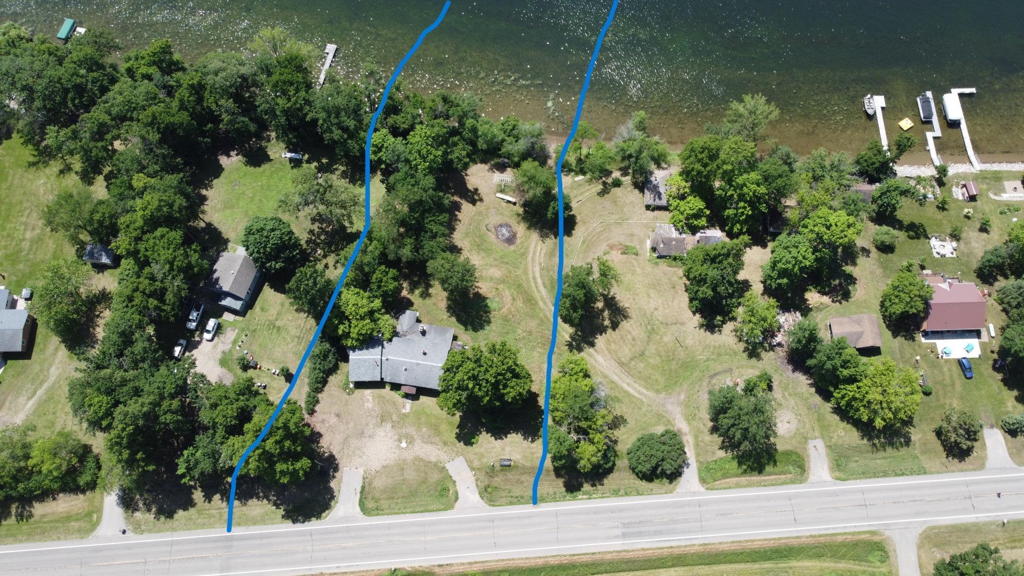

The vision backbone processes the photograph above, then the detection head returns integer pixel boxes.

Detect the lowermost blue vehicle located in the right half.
[958,358,974,380]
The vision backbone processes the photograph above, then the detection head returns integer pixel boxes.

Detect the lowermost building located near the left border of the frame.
[0,289,36,356]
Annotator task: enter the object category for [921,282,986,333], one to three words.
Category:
house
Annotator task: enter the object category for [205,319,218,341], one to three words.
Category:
vehicle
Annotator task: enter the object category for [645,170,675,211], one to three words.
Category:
building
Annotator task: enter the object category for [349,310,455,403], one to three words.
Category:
house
